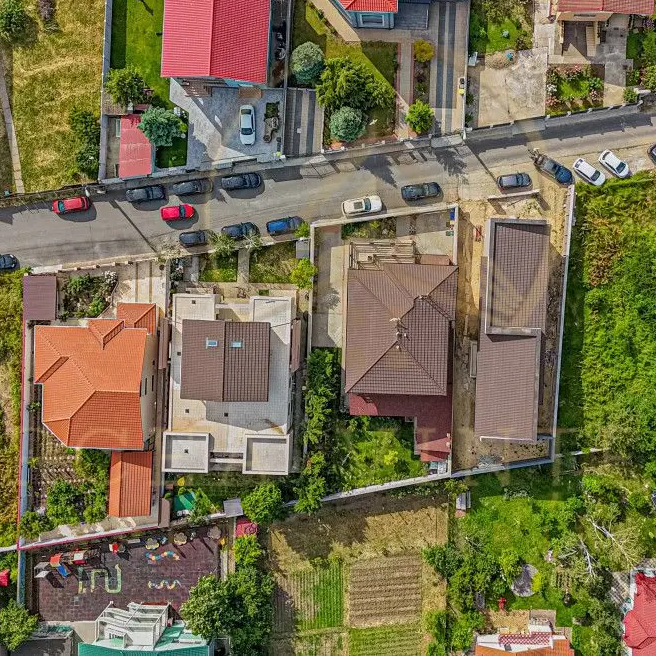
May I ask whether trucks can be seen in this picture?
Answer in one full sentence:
Yes, the frame does contain a truck.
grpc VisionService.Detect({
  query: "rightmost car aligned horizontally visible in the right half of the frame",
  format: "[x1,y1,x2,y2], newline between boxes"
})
[497,173,530,190]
